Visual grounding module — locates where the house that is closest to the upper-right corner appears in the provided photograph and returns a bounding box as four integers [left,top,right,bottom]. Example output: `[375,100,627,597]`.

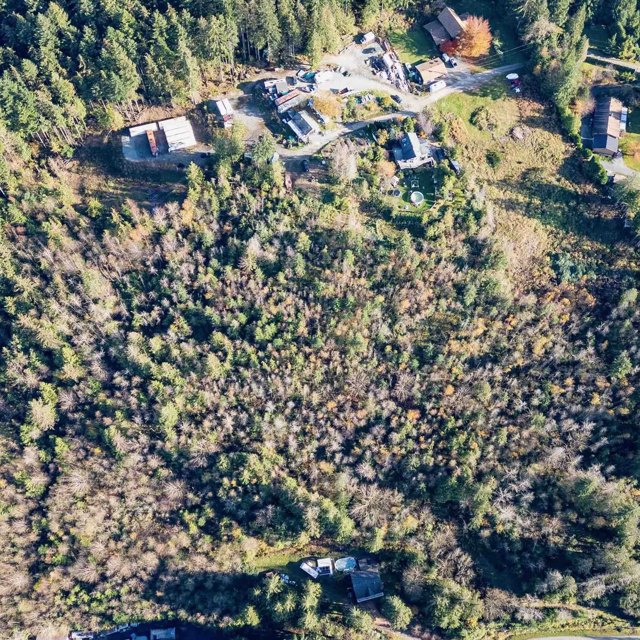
[591,95,623,138]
